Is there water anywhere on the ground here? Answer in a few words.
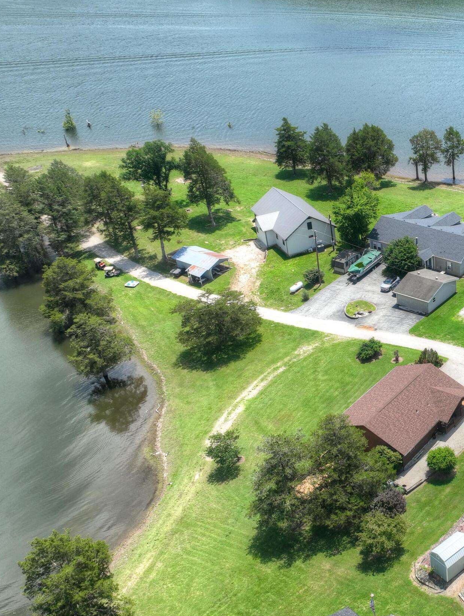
Yes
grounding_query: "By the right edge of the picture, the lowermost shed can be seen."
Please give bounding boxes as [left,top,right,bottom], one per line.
[430,533,464,582]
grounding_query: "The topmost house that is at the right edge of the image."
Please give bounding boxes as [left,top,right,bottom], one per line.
[367,204,464,276]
